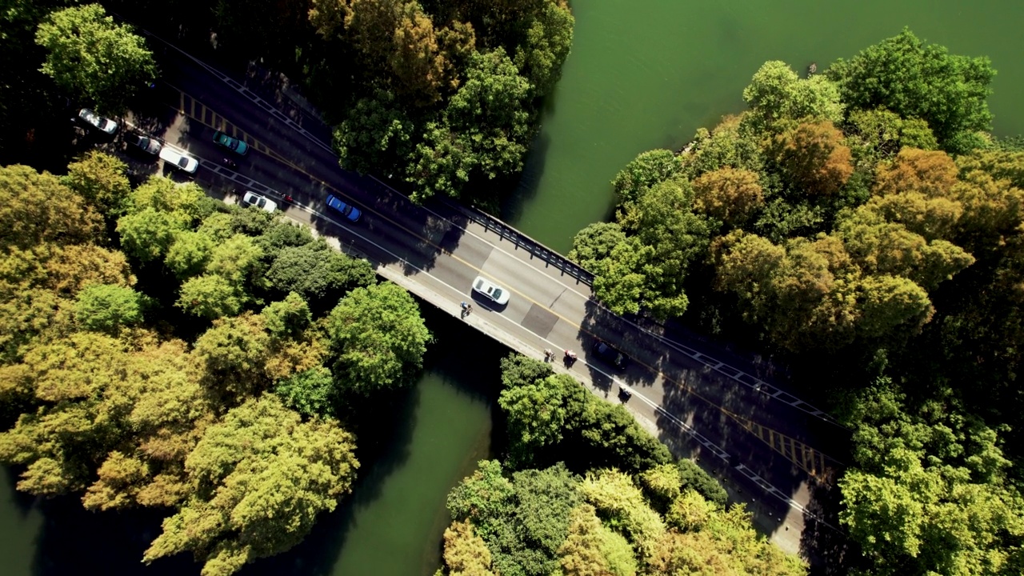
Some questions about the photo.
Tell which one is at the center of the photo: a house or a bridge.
bridge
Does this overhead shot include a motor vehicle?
Yes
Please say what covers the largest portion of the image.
trees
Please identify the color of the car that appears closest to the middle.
white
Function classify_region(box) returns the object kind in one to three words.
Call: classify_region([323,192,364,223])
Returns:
car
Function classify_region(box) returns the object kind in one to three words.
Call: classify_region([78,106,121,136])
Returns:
car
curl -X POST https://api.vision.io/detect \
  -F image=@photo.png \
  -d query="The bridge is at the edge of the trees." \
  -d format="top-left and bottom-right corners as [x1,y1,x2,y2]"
[377,197,613,378]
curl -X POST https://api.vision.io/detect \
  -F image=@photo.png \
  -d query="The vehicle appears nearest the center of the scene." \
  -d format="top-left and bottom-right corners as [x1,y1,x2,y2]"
[470,275,511,305]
